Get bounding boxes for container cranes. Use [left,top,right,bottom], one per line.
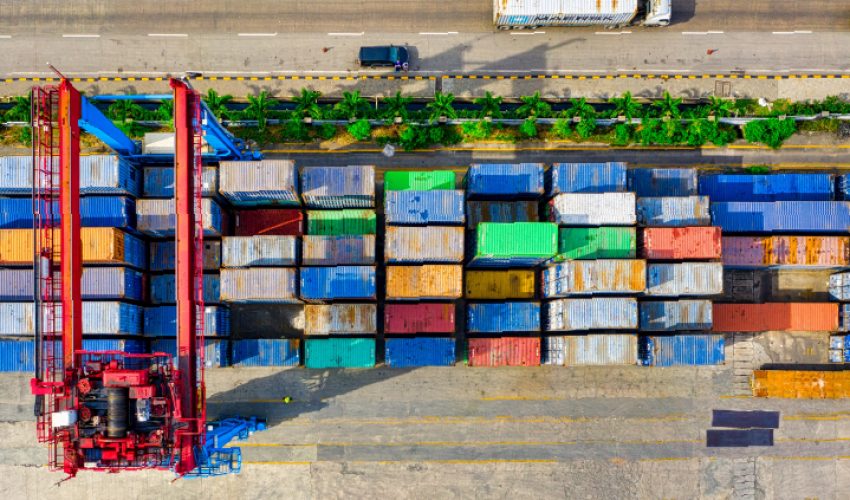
[32,69,272,488]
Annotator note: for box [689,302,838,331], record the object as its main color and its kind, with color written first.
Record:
red shipping container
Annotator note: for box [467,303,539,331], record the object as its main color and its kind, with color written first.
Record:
blue shipping container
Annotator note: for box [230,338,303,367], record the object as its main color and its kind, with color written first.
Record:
blue shipping container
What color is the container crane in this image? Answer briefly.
red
